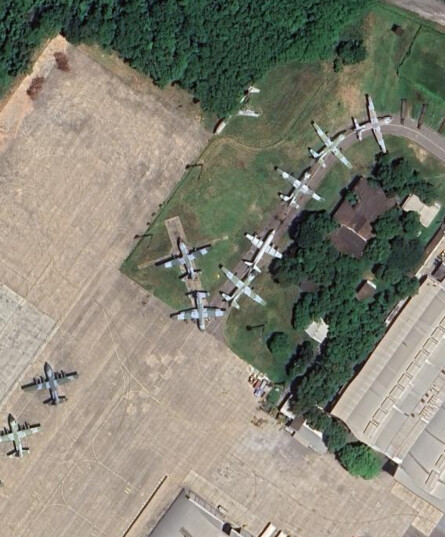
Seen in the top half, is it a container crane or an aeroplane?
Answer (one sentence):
There is an aeroplane in the top half.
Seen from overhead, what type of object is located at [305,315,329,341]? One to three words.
building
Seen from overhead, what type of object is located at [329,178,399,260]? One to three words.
house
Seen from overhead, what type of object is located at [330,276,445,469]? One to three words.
hangar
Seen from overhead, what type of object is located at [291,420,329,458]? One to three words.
shed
